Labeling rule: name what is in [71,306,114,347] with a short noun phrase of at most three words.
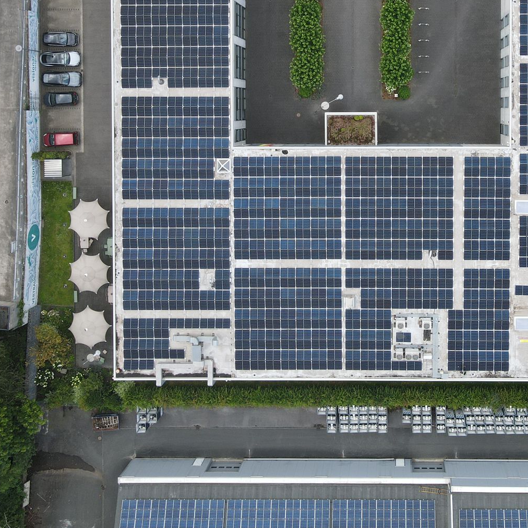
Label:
umbrella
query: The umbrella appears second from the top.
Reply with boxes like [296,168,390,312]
[72,251,112,292]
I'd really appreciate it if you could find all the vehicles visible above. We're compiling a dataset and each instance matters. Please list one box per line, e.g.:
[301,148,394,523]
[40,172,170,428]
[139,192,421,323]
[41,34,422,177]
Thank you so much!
[42,50,82,68]
[42,30,80,48]
[45,91,79,107]
[44,130,80,147]
[43,70,83,89]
